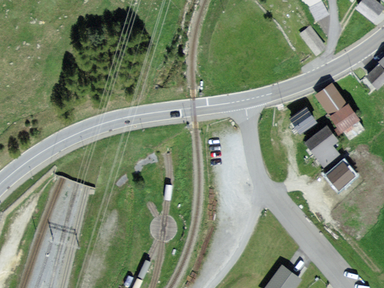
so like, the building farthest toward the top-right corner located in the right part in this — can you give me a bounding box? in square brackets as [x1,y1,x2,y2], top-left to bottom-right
[355,0,384,24]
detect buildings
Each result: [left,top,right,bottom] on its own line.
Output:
[290,107,317,134]
[315,83,346,114]
[322,158,360,194]
[328,104,360,134]
[309,1,330,22]
[365,64,384,90]
[299,26,326,56]
[355,0,384,24]
[266,265,302,288]
[305,126,346,168]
